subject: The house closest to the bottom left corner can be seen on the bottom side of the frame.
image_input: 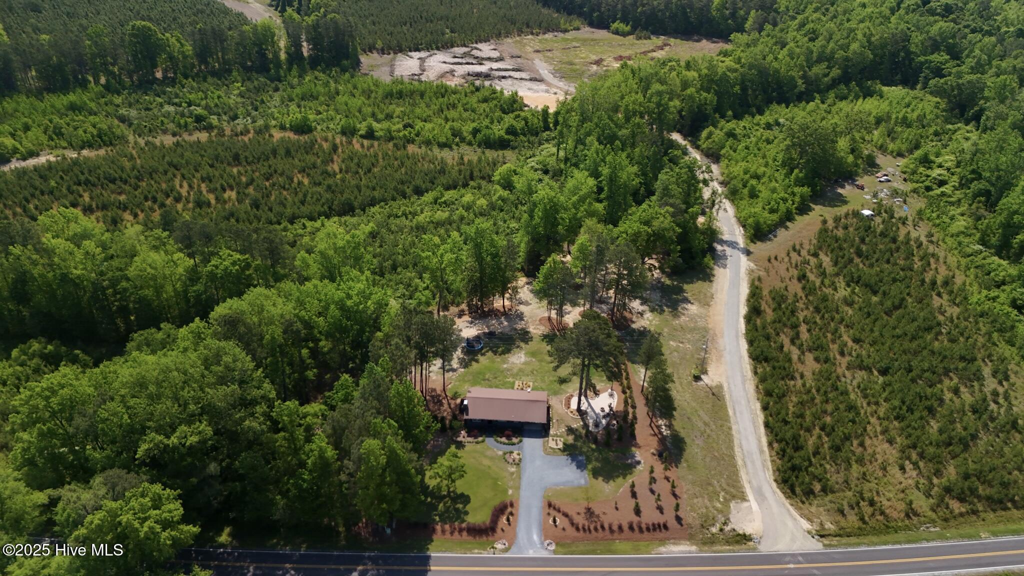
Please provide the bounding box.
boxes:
[462,388,548,433]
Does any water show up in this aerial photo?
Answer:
No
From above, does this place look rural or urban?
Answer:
rural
